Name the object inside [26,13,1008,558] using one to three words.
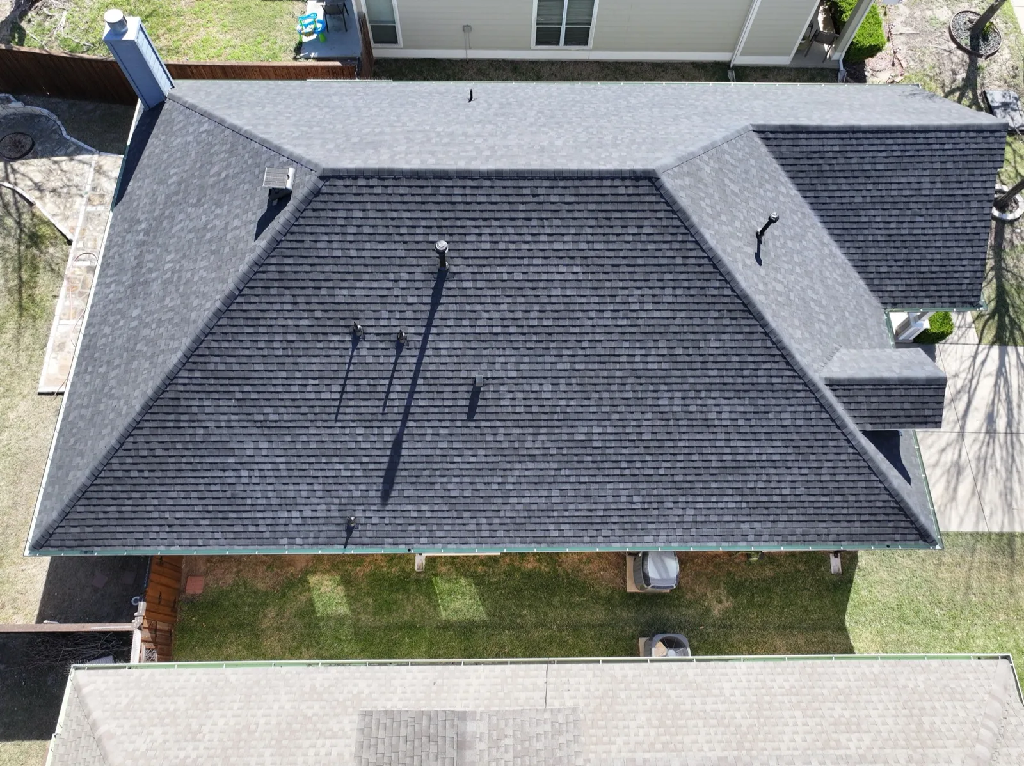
house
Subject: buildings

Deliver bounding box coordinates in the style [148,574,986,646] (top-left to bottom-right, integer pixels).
[44,653,1024,766]
[26,13,1008,558]
[345,0,877,72]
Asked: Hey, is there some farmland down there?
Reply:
No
